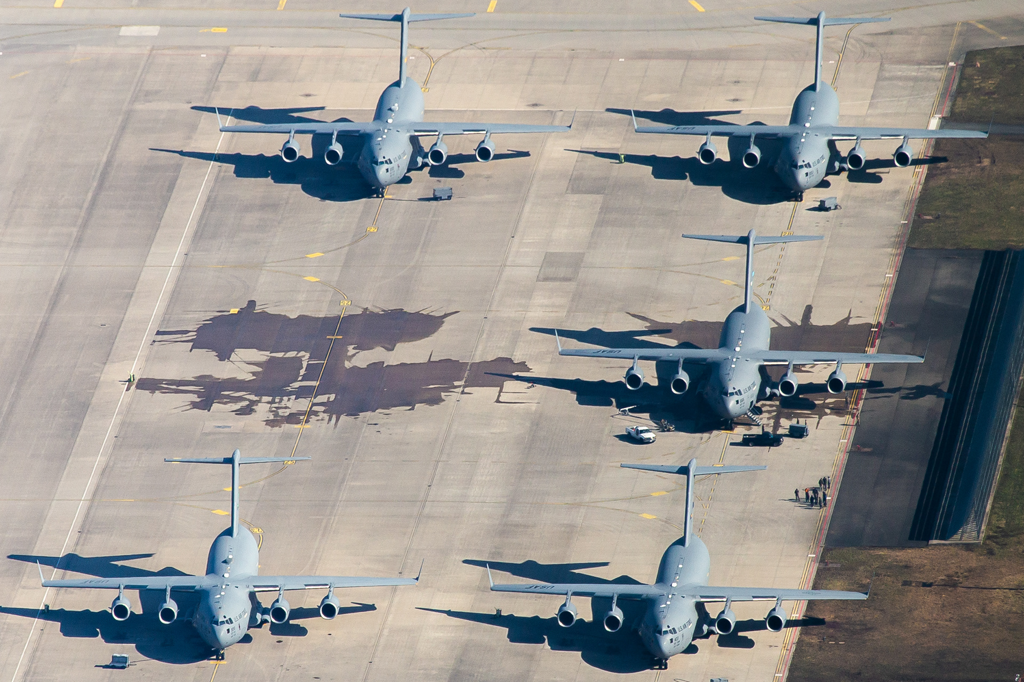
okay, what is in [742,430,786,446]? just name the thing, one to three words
vehicle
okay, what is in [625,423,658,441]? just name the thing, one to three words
vehicle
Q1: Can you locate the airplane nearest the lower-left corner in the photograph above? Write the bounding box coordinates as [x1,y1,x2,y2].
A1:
[36,448,424,662]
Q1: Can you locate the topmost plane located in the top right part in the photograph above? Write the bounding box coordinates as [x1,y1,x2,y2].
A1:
[631,9,994,203]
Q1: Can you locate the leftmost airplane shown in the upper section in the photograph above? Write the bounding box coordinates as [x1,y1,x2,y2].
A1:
[215,5,576,199]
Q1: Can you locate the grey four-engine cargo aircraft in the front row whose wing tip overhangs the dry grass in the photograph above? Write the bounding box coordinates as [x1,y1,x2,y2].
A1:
[487,456,875,671]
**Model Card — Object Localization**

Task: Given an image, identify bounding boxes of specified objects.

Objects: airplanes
[36,448,424,662]
[555,226,930,430]
[631,9,994,203]
[215,5,576,199]
[487,456,875,671]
